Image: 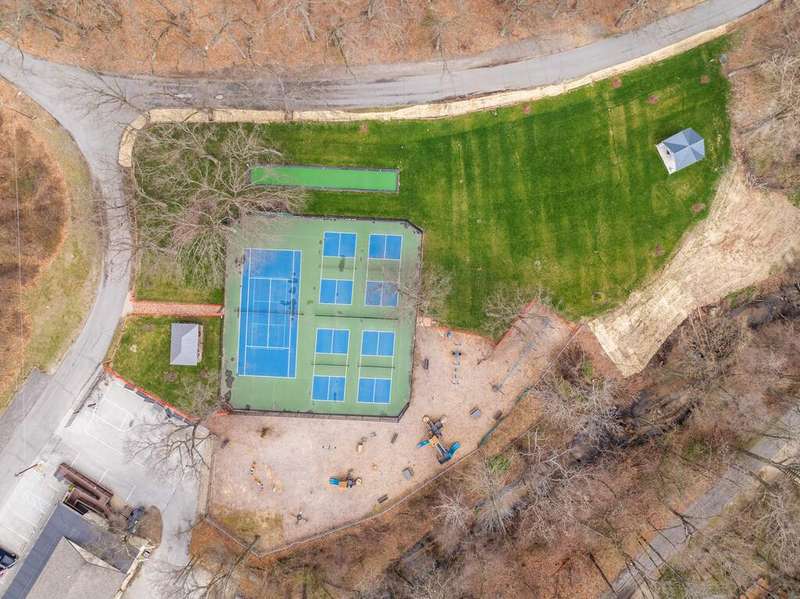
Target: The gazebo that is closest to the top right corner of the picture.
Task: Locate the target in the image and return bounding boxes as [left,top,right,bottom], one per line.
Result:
[656,128,705,174]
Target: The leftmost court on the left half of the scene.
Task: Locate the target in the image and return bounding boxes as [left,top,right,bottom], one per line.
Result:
[235,248,303,378]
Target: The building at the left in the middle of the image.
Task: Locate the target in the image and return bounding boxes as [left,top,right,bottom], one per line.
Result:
[170,323,203,365]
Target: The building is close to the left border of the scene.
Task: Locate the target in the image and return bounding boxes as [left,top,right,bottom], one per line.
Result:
[5,500,150,599]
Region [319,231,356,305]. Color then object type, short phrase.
blue sports court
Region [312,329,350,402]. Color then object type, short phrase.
blue sports court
